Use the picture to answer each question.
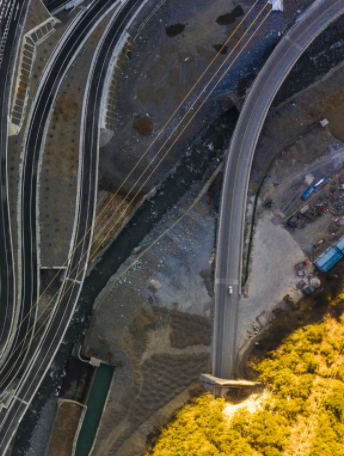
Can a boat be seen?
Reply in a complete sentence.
No, there is no boat in the image.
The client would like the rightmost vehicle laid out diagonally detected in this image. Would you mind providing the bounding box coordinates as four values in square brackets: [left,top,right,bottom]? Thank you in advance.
[315,174,332,190]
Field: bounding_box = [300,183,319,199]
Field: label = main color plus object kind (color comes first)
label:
blue vehicle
